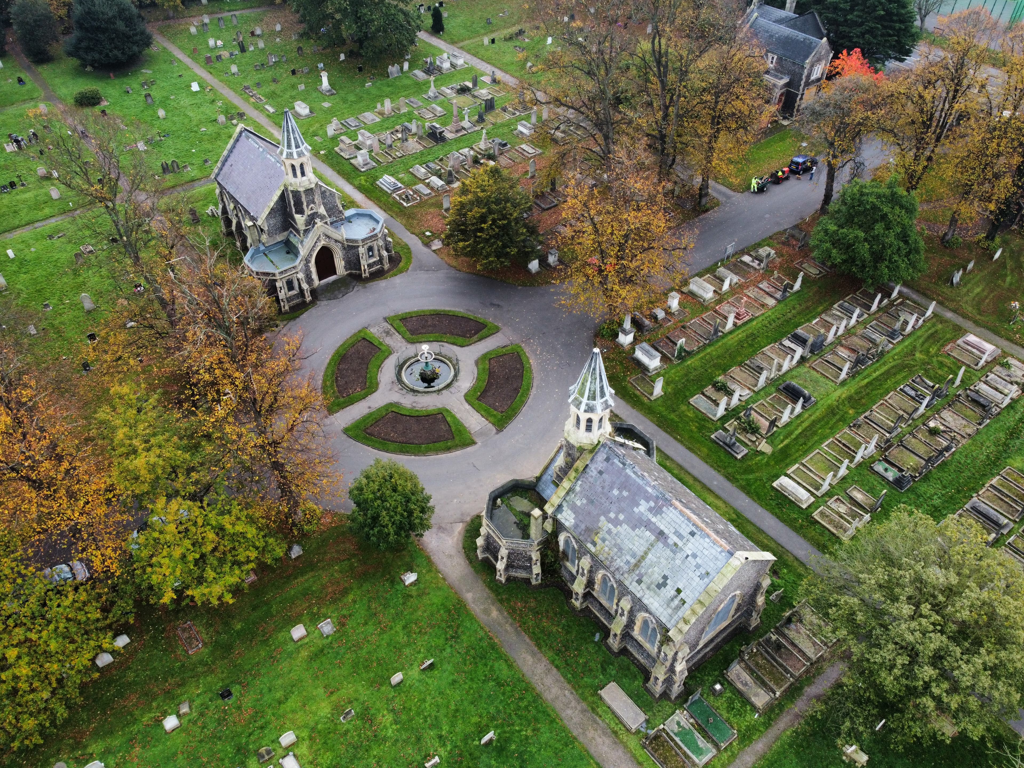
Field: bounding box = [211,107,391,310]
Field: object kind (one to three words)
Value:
church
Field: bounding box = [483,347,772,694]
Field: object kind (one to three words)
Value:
church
